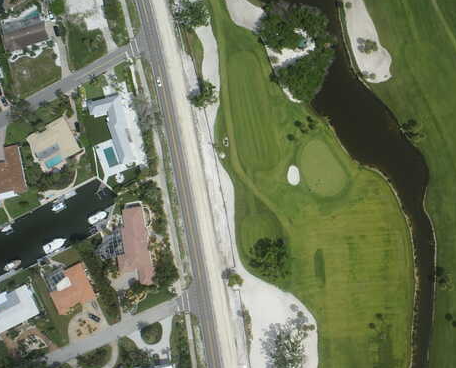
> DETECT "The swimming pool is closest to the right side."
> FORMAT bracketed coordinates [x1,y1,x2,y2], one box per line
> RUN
[103,145,119,169]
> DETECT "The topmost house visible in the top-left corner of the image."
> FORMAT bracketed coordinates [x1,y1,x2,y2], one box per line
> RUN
[1,19,50,51]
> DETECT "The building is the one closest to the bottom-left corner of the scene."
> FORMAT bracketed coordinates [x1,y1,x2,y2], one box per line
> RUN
[0,285,41,332]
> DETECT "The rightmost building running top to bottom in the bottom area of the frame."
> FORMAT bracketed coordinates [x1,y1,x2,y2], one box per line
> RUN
[119,205,156,280]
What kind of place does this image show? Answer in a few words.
golf course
